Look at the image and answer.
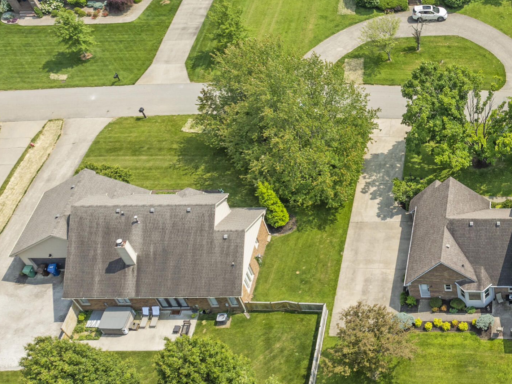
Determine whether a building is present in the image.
Yes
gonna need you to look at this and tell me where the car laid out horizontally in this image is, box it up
[412,2,449,20]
